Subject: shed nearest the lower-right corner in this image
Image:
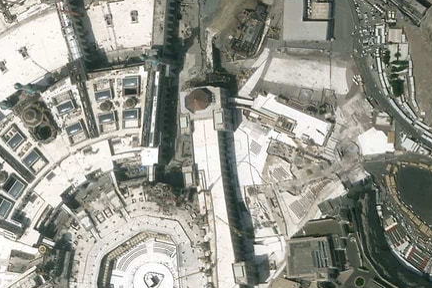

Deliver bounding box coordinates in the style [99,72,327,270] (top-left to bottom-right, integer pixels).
[403,245,430,272]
